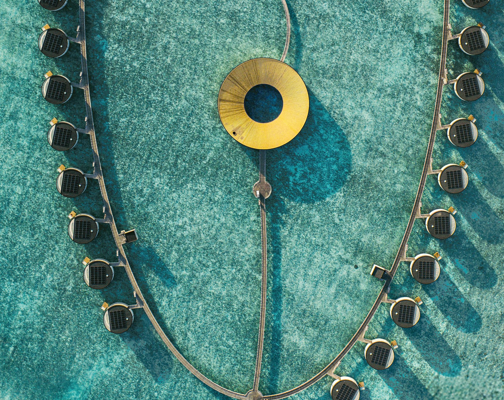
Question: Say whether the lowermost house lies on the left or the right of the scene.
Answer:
right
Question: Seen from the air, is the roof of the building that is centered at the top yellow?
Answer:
Yes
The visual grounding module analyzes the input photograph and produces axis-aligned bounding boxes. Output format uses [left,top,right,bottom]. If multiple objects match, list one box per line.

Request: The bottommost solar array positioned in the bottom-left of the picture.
[111,309,126,327]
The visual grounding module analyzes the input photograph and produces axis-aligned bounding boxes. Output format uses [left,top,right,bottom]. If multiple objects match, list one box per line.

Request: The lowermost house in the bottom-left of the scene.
[102,299,134,332]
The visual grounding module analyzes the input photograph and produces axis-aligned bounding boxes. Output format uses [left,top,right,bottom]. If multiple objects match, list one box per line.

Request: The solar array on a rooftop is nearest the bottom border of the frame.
[335,382,355,400]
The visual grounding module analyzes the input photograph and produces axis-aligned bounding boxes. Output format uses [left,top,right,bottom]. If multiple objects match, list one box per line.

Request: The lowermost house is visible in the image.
[331,375,366,400]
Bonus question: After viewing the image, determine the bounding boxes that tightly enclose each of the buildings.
[39,0,68,9]
[371,265,390,281]
[409,250,442,283]
[458,20,488,53]
[446,112,477,146]
[68,208,99,243]
[49,117,79,150]
[364,336,399,369]
[120,229,138,244]
[331,375,366,400]
[390,295,423,327]
[437,158,467,192]
[461,0,488,8]
[39,22,69,57]
[82,254,114,288]
[453,66,484,99]
[217,58,310,149]
[102,299,134,332]
[43,68,73,103]
[57,162,88,195]
[424,203,457,237]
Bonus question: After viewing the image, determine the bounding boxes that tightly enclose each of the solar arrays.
[54,126,71,146]
[433,214,447,231]
[371,343,388,364]
[418,259,432,277]
[461,75,479,95]
[398,303,414,321]
[91,265,105,282]
[445,169,461,187]
[454,121,470,141]
[49,79,65,98]
[335,382,355,400]
[64,172,80,191]
[111,309,126,327]
[76,218,91,237]
[465,29,483,50]
[44,32,62,52]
